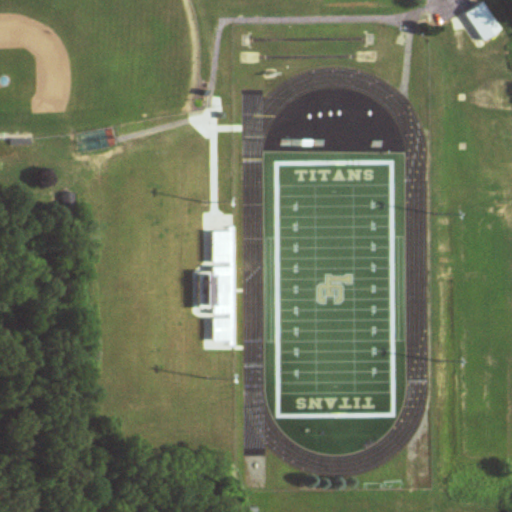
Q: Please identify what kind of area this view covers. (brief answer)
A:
sports ground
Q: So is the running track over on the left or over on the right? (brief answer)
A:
right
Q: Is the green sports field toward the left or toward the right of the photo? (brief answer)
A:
right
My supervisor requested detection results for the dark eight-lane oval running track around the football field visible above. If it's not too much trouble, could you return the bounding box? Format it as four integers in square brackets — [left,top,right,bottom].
[244,68,427,474]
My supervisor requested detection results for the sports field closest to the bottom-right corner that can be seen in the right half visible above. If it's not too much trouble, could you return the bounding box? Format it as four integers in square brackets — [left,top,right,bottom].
[266,152,405,453]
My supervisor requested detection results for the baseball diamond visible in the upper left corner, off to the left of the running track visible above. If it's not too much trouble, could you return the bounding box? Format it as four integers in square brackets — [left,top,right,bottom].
[0,13,71,113]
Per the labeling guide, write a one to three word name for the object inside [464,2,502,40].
building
